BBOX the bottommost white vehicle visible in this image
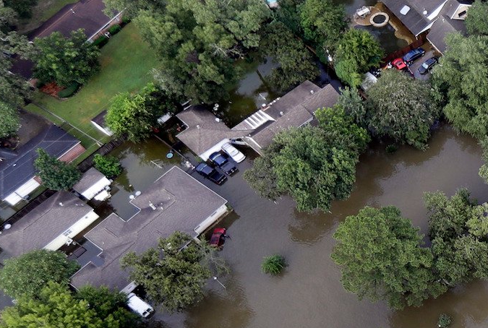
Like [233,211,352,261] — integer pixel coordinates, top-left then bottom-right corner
[124,286,157,322]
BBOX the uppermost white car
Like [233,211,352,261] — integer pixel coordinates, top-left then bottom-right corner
[220,143,247,165]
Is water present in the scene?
Yes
